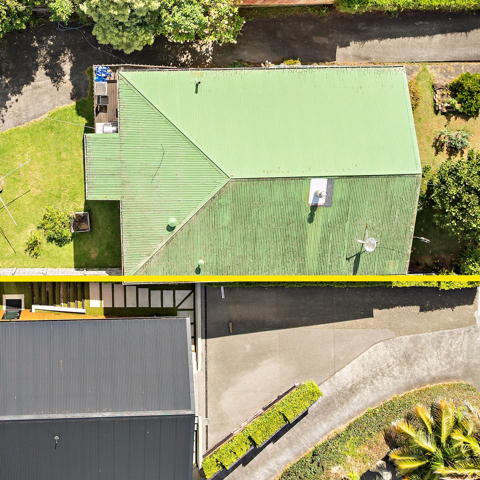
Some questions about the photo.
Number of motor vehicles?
0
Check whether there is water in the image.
No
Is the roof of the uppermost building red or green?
green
